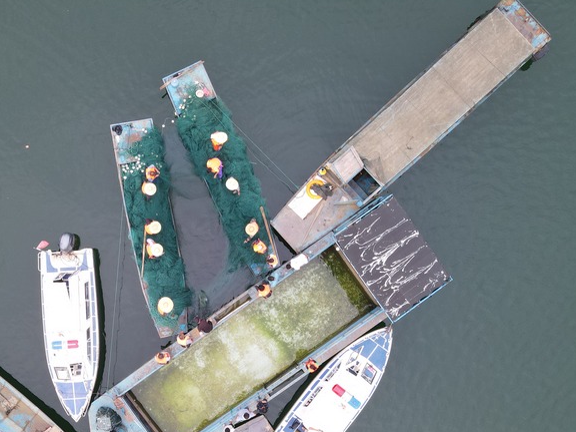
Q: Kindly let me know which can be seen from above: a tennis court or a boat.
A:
boat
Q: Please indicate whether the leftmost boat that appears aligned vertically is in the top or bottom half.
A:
bottom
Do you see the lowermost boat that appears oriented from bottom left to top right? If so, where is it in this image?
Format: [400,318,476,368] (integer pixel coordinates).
[273,326,395,432]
